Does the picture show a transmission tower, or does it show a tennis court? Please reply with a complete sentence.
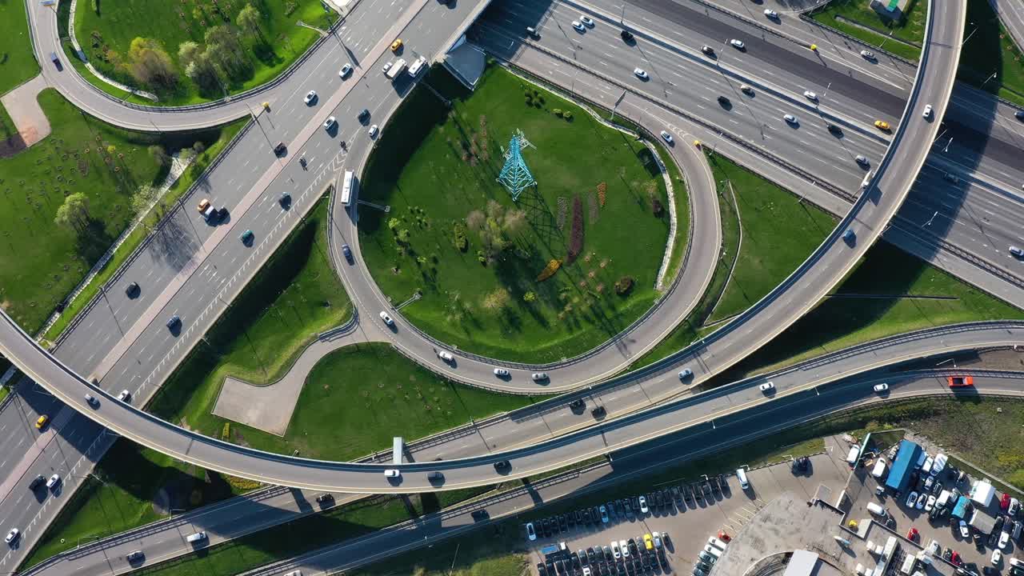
Looking from above, you can make out a transmission tower.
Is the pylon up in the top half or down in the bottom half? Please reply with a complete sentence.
The pylon sits in the top half of the picture.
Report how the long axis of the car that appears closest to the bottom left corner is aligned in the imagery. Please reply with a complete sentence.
I'd say the car that appears closest to the bottom left corner is aligned diagonally in the picture.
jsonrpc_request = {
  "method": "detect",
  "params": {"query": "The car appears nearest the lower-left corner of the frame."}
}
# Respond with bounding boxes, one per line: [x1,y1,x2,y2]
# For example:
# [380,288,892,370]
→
[2,526,22,547]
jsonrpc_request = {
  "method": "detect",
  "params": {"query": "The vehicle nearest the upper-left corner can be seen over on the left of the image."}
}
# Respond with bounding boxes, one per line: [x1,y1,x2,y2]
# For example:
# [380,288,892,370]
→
[50,55,63,69]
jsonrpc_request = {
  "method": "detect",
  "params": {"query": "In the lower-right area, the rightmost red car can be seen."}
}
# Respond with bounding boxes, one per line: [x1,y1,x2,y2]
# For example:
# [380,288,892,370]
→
[999,491,1012,511]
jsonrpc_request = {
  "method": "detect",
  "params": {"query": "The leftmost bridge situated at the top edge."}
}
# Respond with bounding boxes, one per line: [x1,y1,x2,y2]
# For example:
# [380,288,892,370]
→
[407,0,484,37]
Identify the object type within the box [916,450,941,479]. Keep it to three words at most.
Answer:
truck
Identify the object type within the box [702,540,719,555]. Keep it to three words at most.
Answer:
vehicle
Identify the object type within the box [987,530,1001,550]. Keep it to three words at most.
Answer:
car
